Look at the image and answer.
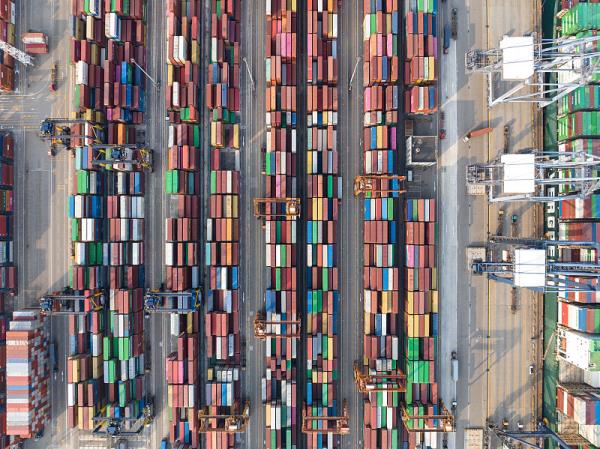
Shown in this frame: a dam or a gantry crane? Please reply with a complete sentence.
There is a gantry crane in the scene.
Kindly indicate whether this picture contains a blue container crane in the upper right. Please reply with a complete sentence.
No, no blue container crane appears in the upper right.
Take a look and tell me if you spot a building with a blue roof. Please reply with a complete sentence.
No, I find no building with a blue roof anywhere in the image.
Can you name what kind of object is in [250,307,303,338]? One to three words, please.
container crane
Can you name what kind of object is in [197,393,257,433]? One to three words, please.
container crane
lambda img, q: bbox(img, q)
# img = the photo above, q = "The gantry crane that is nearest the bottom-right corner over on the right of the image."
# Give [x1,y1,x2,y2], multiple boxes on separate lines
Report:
[488,417,572,449]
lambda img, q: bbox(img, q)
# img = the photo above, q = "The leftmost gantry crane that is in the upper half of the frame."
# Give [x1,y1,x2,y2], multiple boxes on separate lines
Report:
[38,118,110,149]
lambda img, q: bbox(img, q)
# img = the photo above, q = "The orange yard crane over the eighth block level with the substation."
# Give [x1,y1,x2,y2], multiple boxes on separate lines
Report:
[345,174,407,199]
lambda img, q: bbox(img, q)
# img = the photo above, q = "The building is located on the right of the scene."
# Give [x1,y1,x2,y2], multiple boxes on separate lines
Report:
[409,137,437,165]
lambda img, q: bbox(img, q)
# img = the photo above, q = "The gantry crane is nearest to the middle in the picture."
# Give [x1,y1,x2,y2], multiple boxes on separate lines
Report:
[250,197,303,221]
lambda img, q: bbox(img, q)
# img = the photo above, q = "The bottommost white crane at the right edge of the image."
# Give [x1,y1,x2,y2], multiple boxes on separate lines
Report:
[468,234,600,286]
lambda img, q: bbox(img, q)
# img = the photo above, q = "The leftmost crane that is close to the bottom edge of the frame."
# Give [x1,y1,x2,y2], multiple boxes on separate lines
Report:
[91,395,155,436]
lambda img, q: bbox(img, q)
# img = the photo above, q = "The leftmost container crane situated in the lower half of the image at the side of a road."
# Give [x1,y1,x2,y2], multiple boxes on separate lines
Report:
[38,285,109,314]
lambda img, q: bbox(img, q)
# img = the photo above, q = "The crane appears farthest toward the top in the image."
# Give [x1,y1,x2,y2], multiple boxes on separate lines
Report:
[468,32,600,116]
